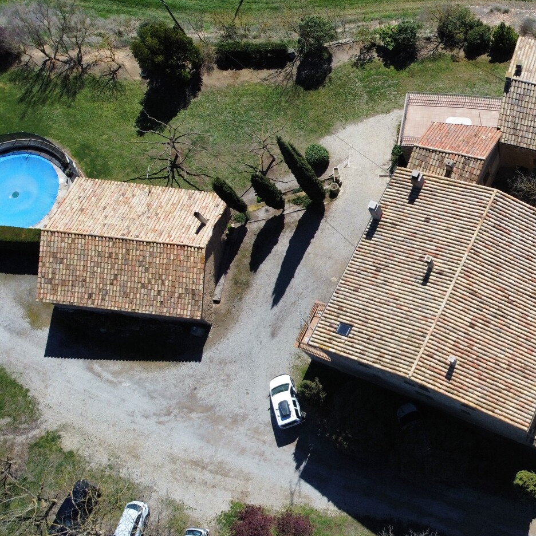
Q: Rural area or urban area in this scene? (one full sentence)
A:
The area is urban.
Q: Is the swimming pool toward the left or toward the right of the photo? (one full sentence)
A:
You can find the swimming pool on the left side of the picture.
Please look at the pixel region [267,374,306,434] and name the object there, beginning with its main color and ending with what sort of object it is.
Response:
white van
